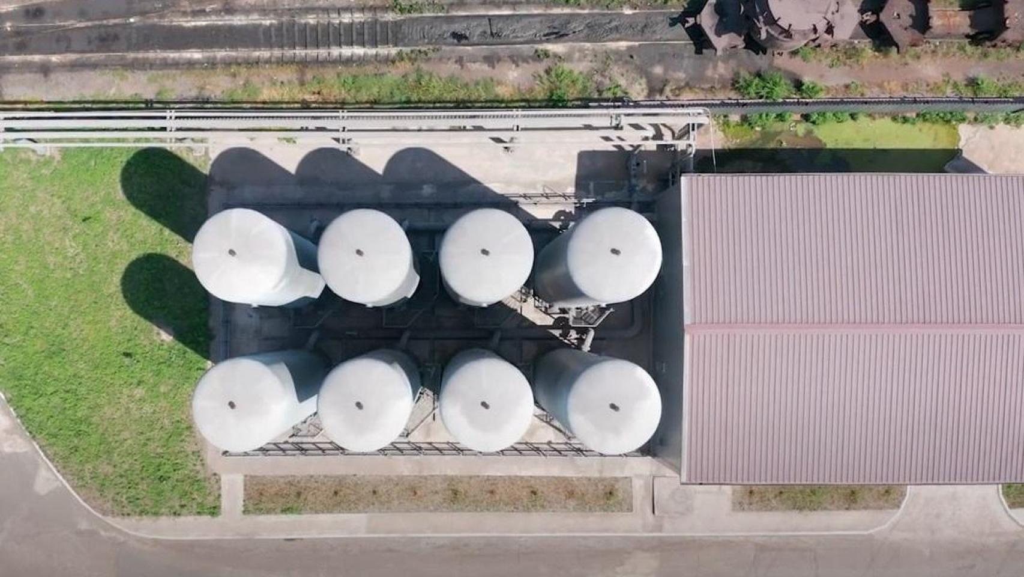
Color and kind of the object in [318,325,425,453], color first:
white storage tank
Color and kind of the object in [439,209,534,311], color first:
white storage tank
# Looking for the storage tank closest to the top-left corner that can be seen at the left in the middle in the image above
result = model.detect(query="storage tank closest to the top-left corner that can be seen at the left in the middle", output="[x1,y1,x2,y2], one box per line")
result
[192,209,333,311]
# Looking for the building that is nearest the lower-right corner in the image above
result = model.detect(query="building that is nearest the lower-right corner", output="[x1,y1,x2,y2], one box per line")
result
[653,174,1024,484]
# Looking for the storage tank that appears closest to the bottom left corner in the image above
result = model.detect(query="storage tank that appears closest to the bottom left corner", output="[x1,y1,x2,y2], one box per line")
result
[192,325,334,453]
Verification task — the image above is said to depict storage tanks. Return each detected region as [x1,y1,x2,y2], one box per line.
[439,209,534,311]
[192,325,334,453]
[192,209,333,311]
[529,325,662,453]
[439,325,534,453]
[318,209,425,311]
[318,325,425,453]
[529,209,662,311]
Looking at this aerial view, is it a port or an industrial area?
industrial area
